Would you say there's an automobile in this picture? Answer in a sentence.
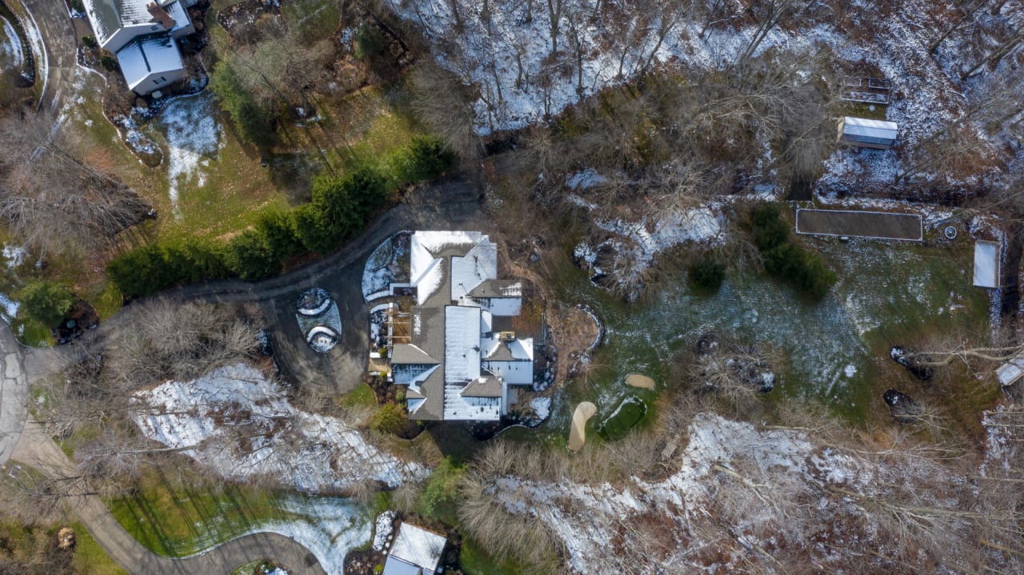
No, I can see no automobile in this picture.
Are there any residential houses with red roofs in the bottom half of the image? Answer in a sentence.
No, no residential house with a red roof is visible in the bottom half of the image.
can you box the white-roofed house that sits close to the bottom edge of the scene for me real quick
[383,514,448,575]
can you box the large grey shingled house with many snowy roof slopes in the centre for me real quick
[391,231,533,420]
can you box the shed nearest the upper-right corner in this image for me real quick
[843,118,907,147]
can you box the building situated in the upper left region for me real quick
[81,0,197,92]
